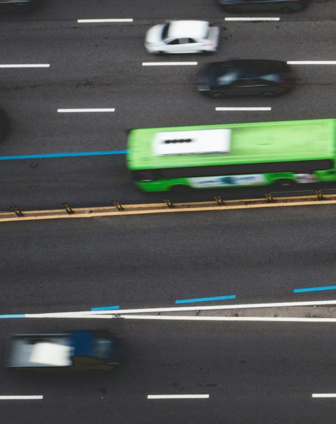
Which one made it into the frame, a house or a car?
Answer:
car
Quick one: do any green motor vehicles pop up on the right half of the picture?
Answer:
Yes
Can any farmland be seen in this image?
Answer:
No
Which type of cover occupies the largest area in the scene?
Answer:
paved ground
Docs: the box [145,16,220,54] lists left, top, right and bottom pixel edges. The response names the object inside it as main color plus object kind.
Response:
white car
